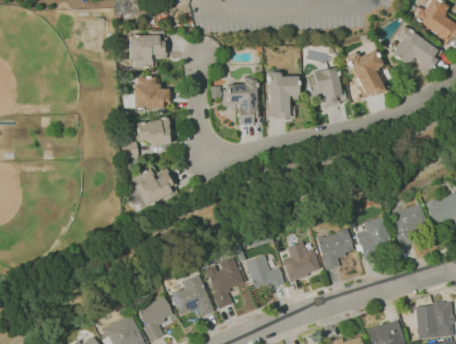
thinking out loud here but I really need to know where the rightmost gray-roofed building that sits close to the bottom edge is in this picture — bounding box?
[417,303,456,340]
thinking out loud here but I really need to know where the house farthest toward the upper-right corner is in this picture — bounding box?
[416,0,456,46]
